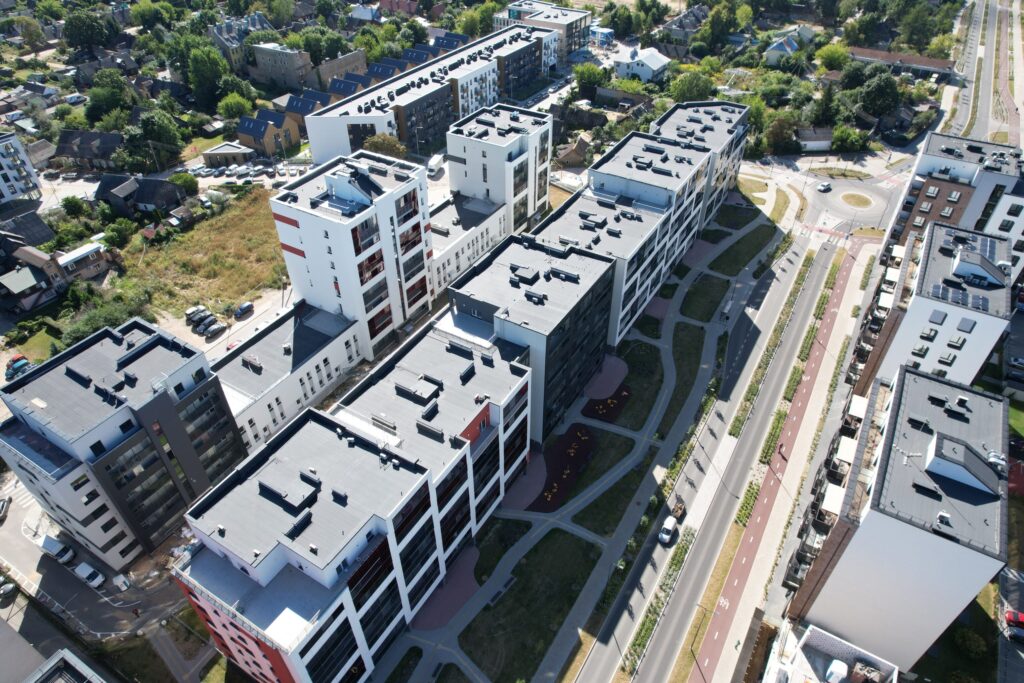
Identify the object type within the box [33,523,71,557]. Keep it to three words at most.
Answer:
truck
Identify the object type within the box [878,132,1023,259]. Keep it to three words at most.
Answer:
building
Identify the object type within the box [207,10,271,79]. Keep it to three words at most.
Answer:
building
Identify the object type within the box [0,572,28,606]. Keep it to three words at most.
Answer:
car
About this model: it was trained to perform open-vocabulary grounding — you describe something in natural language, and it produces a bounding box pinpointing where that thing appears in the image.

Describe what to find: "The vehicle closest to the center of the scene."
[427,152,441,172]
